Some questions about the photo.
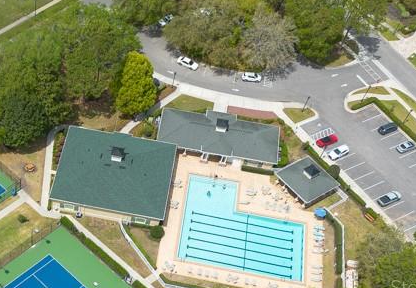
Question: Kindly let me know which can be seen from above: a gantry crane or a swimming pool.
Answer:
swimming pool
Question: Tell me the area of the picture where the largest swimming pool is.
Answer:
bottom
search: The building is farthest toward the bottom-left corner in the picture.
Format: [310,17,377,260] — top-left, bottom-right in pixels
[48,127,177,225]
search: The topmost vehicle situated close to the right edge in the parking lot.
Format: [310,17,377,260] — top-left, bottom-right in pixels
[376,122,398,137]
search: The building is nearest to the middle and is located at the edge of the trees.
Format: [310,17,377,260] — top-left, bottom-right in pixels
[156,109,279,172]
